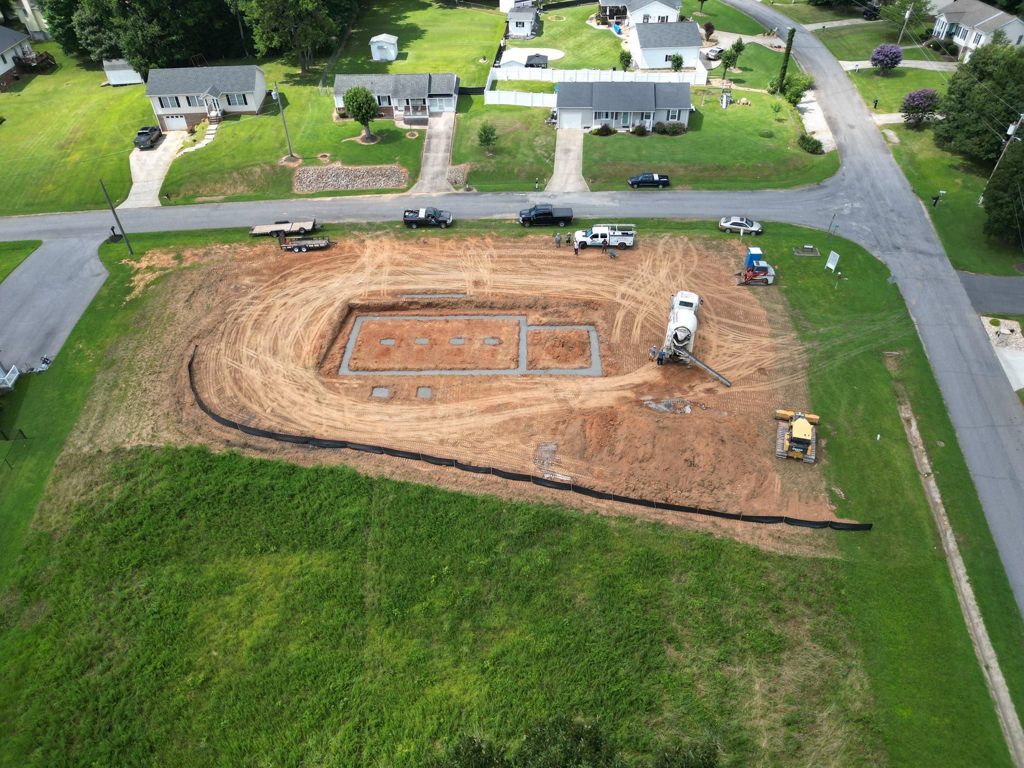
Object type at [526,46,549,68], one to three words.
gazebo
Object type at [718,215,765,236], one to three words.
car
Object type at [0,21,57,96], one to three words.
house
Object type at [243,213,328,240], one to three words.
trailer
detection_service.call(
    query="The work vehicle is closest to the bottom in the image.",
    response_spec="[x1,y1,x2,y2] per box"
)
[769,408,820,462]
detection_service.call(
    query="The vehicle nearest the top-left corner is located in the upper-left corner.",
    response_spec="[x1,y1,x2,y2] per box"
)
[130,124,164,149]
